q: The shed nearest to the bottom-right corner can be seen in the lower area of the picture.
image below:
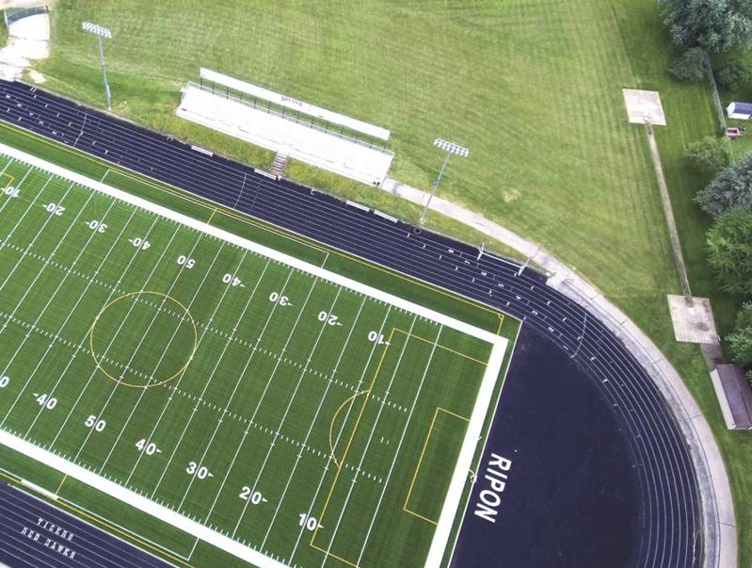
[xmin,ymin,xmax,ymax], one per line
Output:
[710,361,752,430]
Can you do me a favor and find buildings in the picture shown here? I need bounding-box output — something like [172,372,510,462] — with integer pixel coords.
[723,97,752,120]
[710,361,752,430]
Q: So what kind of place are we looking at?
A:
sports ground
